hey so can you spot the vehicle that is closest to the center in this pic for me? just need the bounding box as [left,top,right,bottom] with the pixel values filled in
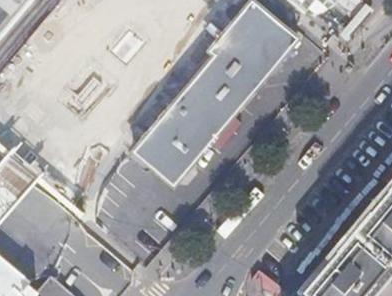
[197,148,215,168]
